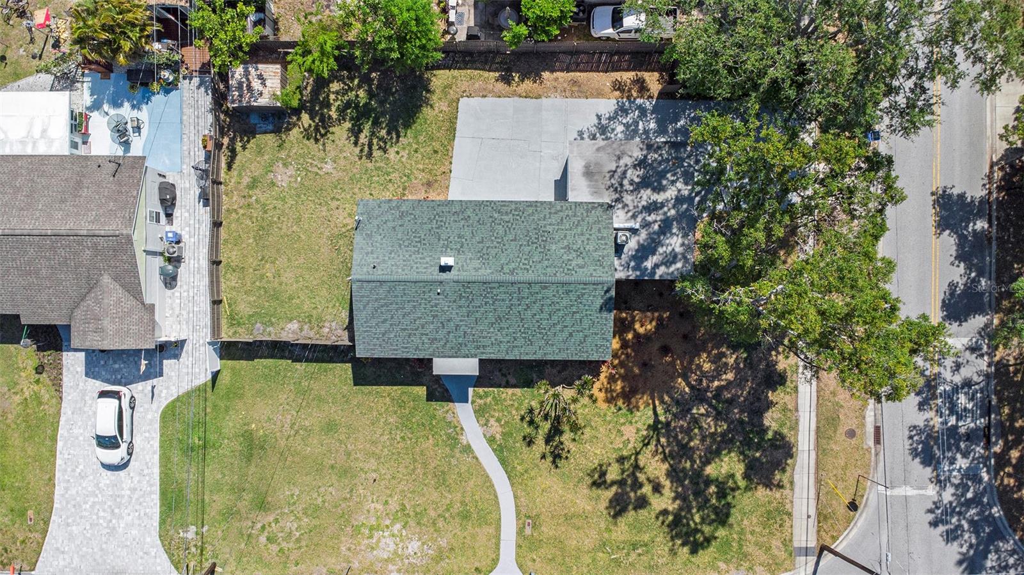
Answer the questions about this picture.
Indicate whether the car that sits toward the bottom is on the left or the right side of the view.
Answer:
left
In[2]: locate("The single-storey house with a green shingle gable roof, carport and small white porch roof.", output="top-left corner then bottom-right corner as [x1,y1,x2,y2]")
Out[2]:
[347,140,698,375]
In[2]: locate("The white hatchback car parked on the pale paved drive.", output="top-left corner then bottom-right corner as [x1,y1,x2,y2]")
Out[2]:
[90,384,135,467]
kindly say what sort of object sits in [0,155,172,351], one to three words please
house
